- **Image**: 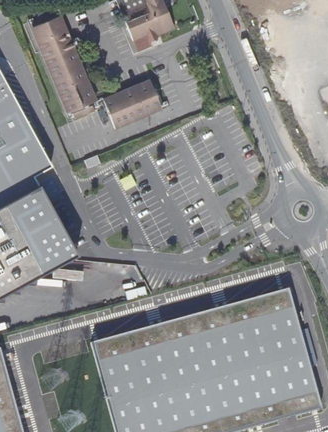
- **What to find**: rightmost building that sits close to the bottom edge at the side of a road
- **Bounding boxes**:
[93,288,322,432]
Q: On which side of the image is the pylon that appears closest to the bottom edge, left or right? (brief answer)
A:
left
